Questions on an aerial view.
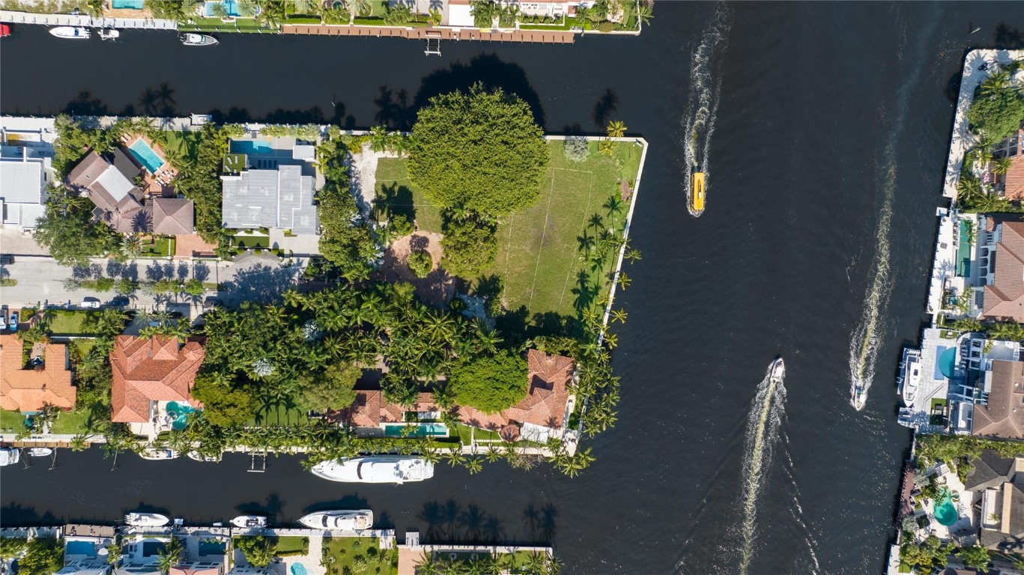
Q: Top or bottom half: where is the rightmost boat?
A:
bottom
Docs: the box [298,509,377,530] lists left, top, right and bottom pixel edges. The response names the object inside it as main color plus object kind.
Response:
white boat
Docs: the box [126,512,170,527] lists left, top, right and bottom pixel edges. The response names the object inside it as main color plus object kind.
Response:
white boat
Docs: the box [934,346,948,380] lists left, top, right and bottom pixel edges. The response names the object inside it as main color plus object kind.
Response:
blue swimming pool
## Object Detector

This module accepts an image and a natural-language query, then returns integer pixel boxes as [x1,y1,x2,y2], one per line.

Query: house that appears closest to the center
[323,349,575,443]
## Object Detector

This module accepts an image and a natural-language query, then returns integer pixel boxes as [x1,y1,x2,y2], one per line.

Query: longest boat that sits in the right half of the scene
[903,351,924,407]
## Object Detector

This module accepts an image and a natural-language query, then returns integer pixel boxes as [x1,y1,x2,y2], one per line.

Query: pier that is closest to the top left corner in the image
[0,9,178,32]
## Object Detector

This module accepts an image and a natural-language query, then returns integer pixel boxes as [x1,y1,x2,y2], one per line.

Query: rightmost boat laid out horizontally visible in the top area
[180,33,219,47]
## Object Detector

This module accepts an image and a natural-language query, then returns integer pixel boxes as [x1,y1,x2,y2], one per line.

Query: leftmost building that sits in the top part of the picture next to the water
[0,131,60,230]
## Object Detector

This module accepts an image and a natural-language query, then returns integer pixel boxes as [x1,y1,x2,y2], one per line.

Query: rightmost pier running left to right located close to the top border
[281,24,575,46]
